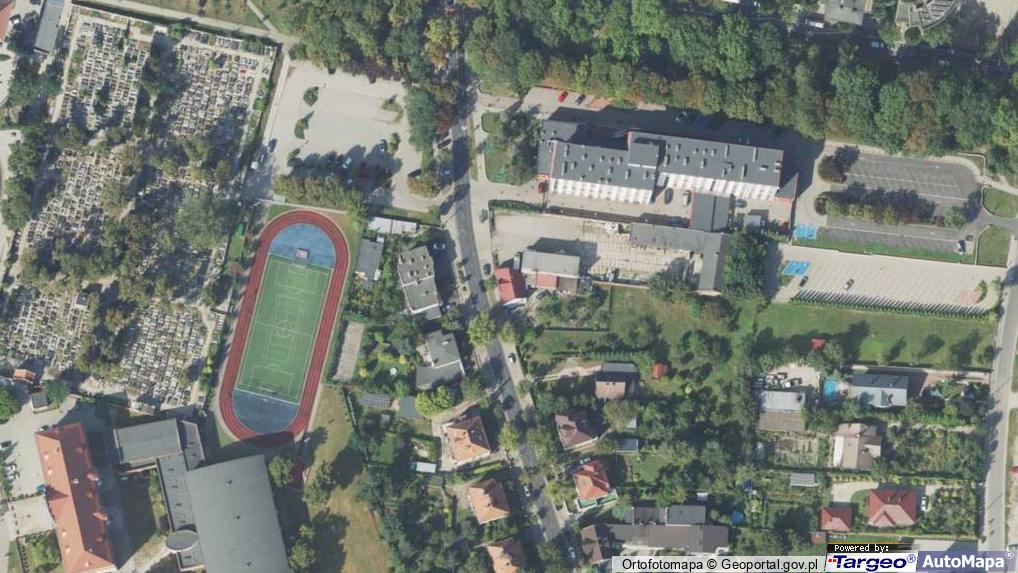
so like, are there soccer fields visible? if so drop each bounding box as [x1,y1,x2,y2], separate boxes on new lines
[238,254,332,405]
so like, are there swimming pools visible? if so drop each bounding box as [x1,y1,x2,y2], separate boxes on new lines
[821,378,839,398]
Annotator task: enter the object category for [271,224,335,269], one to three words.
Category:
sports court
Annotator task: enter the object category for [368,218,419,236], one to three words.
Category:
building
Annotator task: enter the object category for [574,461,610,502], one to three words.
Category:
house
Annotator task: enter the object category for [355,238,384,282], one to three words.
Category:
shed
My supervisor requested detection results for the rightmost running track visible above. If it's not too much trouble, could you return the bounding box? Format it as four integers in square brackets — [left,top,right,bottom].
[220,209,350,448]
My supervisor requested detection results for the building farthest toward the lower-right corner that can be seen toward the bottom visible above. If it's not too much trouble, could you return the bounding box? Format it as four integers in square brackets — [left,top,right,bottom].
[867,490,917,530]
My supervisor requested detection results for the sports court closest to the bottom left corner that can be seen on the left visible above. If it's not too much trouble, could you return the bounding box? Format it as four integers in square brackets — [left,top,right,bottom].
[236,389,298,432]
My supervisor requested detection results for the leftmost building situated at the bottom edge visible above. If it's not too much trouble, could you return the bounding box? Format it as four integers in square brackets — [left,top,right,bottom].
[36,423,111,573]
